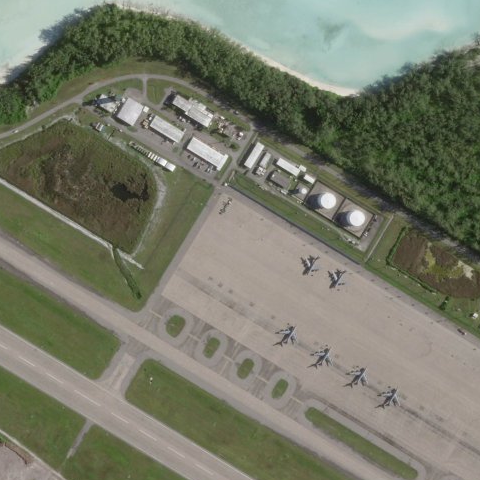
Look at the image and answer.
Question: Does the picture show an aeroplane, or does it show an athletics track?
aeroplane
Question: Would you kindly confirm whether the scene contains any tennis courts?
No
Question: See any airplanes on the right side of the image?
Yes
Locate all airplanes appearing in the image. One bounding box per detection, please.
[275,326,296,348]
[303,254,324,275]
[378,388,399,410]
[330,267,351,288]
[347,368,368,390]
[311,348,331,370]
